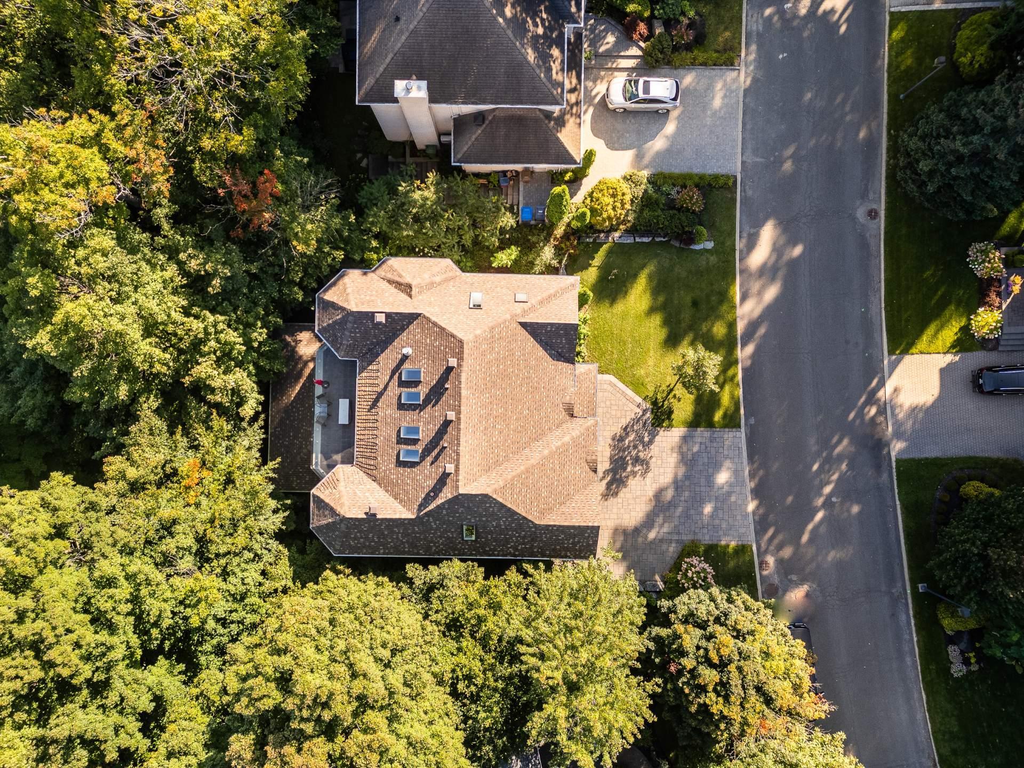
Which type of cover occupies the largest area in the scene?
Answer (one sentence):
The scene is dominated by trees.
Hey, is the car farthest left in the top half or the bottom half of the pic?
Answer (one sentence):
Seen from above, the car farthest left lies in the top half of the view.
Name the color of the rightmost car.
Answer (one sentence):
The color of the rightmost car is black.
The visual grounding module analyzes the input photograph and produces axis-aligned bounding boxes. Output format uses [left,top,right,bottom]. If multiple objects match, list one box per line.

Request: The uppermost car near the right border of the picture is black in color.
[964,364,1024,395]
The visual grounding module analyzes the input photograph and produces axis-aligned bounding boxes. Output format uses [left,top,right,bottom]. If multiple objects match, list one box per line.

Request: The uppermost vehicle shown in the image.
[604,77,680,117]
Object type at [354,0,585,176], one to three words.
house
